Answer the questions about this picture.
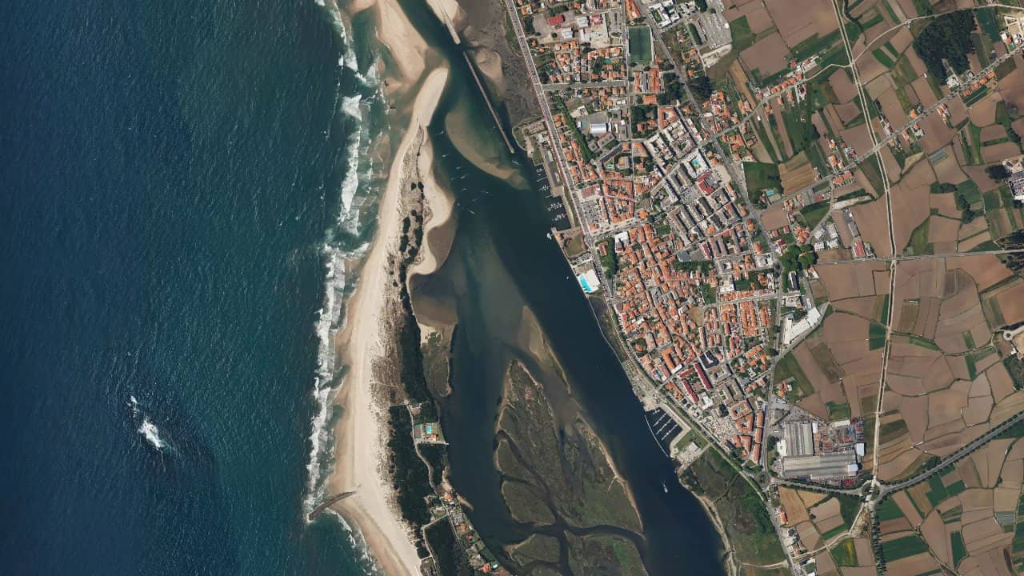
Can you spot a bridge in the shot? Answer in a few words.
No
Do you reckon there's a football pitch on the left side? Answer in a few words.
No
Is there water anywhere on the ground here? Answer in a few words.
Yes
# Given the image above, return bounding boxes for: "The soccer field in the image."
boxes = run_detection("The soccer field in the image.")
[628,26,652,62]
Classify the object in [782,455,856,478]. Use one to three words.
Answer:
building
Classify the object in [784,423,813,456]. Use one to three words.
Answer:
building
